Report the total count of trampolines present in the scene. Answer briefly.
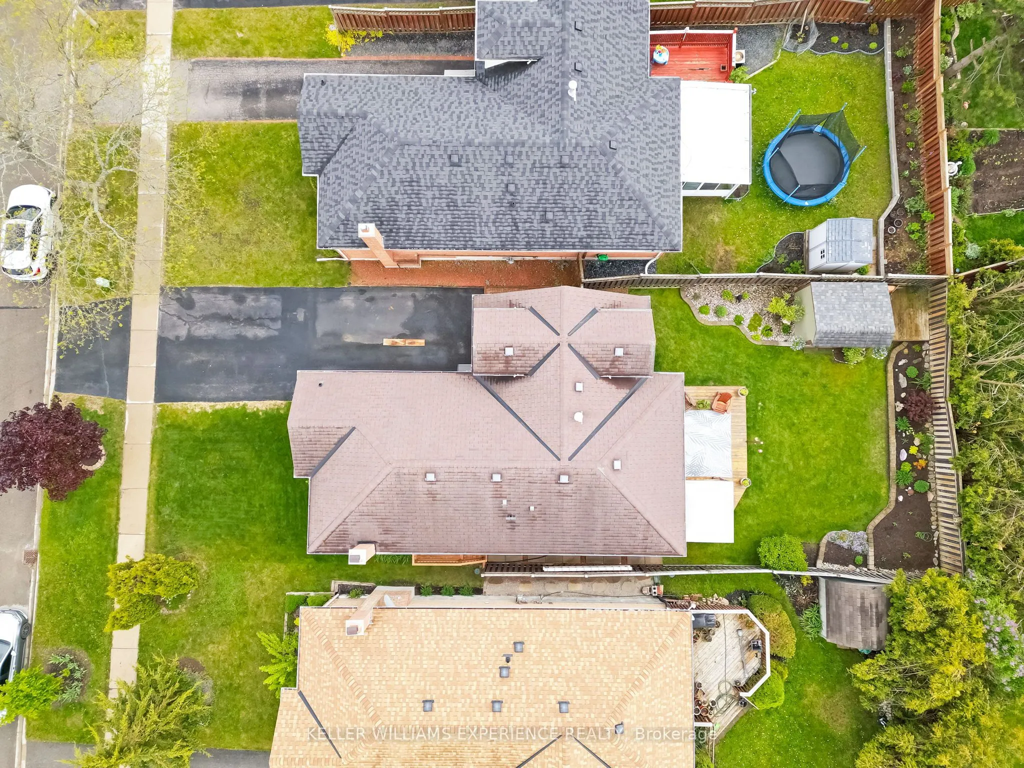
one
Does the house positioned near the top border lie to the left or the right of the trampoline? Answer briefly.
on its left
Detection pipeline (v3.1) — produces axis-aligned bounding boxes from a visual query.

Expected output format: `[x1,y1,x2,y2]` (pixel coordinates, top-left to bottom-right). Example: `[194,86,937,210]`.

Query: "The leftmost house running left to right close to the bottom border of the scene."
[269,580,696,768]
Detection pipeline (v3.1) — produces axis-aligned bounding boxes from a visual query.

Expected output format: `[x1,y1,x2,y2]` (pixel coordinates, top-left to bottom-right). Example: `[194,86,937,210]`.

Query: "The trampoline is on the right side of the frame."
[757,103,867,211]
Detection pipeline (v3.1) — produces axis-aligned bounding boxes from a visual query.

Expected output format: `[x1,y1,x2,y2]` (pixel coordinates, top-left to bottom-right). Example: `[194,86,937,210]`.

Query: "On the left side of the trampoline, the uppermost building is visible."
[293,0,753,275]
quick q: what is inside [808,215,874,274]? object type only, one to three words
shed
